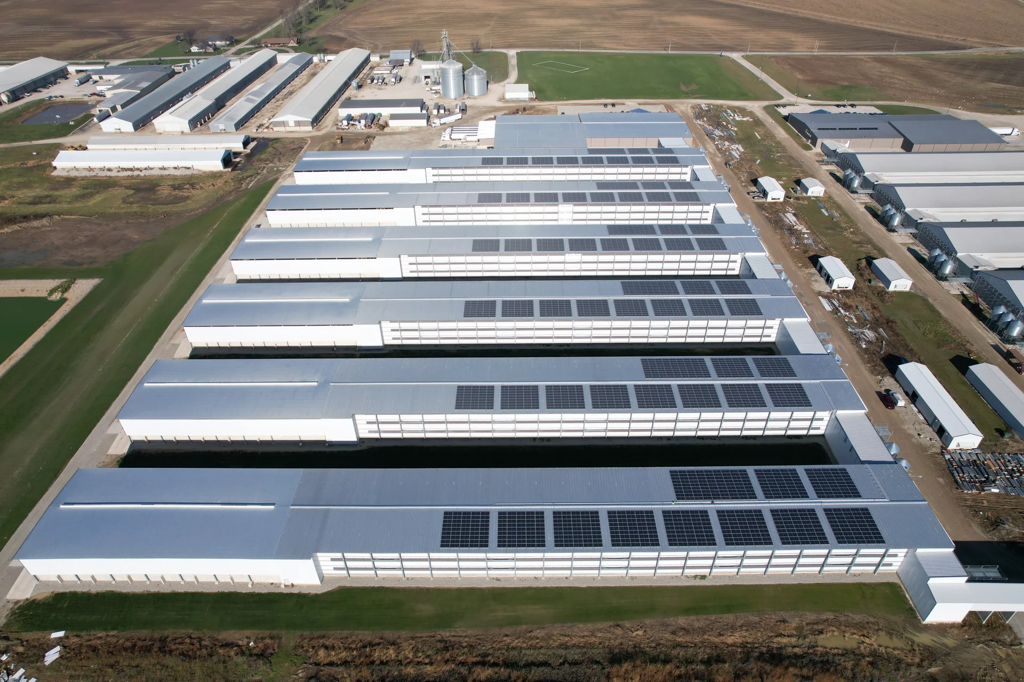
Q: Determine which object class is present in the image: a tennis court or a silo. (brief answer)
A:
silo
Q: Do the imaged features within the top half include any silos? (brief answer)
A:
Yes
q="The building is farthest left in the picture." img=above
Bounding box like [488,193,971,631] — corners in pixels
[0,56,67,104]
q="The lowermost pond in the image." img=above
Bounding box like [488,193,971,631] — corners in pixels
[0,297,66,366]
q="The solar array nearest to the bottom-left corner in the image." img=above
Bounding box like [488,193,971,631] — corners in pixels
[440,510,489,548]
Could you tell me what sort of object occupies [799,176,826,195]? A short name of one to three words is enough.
shed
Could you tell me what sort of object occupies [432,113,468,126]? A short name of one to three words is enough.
vehicle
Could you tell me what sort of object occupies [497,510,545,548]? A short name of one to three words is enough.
solar array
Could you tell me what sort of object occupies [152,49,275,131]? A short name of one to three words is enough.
barn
